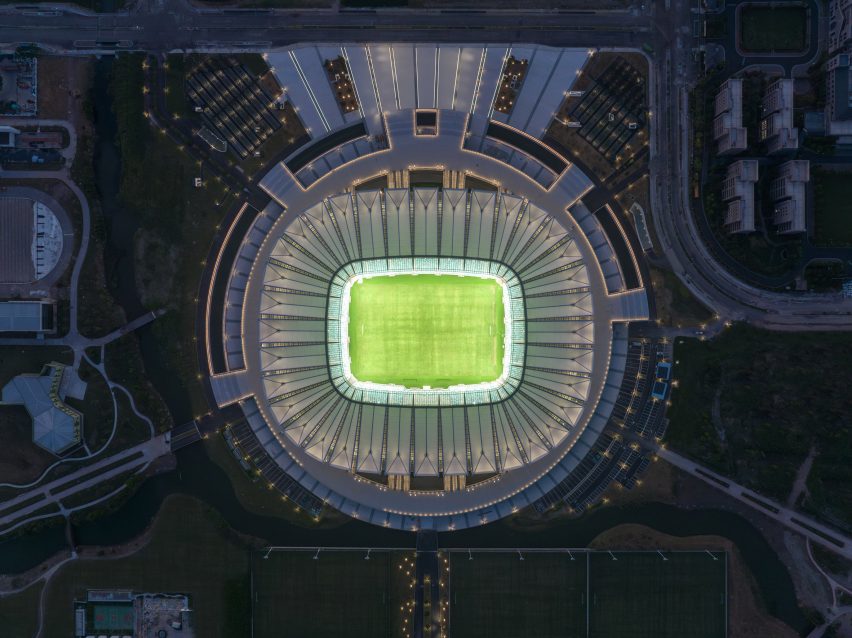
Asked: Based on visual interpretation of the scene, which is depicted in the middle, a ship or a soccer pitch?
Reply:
soccer pitch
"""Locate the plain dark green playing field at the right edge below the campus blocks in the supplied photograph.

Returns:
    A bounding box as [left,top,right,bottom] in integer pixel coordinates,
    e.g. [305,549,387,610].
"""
[806,172,852,246]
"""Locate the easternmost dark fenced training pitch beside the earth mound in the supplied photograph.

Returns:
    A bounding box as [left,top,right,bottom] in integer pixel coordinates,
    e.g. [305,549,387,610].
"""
[589,550,727,638]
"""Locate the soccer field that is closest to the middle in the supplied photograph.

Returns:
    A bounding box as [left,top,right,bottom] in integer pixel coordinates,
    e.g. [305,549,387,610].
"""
[344,270,508,391]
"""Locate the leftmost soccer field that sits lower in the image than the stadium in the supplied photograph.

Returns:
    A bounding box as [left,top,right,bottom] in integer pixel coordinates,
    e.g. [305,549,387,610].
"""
[252,550,390,638]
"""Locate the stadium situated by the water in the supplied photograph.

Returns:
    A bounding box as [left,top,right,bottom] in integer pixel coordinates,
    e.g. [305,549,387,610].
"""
[205,109,648,532]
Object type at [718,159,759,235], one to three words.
building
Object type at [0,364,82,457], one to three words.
building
